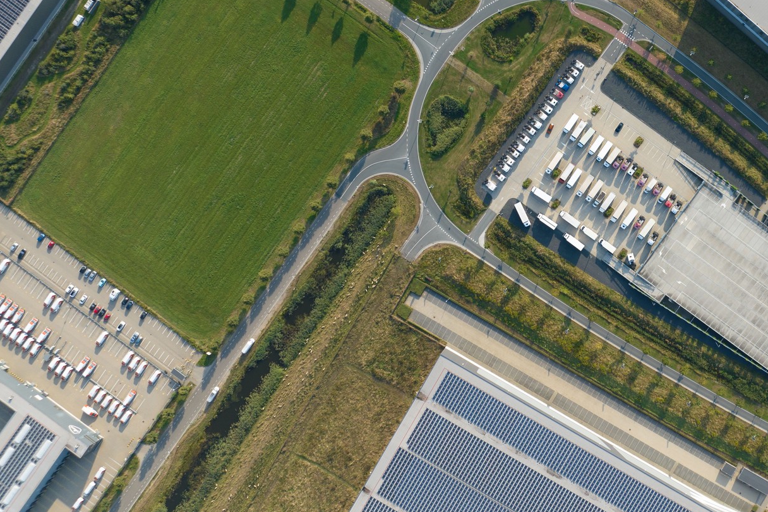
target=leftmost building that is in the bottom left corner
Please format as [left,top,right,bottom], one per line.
[0,348,114,512]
